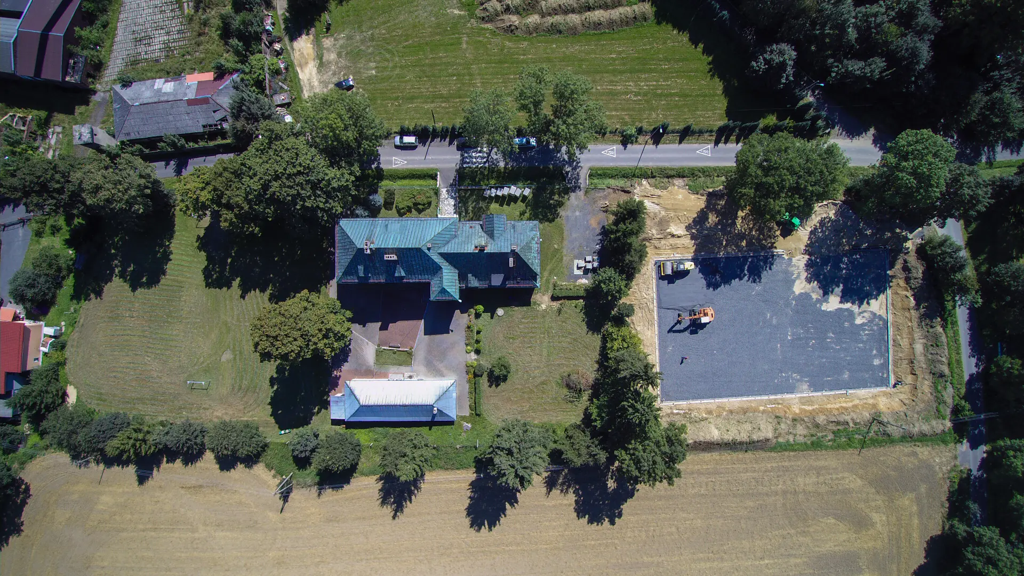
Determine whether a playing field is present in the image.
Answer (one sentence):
Yes, you can see a playing field in this photo.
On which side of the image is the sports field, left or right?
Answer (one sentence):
The sports field sits on the left side.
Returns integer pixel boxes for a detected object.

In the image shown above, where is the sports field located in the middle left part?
[66,193,340,428]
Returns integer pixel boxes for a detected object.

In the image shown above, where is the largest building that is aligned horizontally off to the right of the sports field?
[336,214,542,302]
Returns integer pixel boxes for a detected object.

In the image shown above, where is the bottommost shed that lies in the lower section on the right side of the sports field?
[331,372,457,422]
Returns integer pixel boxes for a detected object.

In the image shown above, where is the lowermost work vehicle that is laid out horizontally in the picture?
[677,310,715,326]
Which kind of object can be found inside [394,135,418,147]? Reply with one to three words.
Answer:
vehicle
